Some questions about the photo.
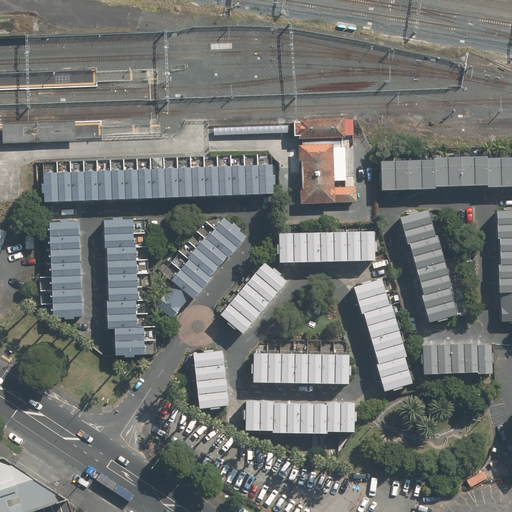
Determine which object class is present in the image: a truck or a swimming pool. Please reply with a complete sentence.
I can see a truck in this picture.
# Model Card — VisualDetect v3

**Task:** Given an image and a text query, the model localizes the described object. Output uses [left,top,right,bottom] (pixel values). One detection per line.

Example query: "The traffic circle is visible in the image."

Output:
[180,306,214,346]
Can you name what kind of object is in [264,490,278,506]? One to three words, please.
vehicle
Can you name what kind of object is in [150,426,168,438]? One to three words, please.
vehicle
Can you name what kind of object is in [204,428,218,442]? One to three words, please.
car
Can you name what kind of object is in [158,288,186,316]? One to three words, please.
house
